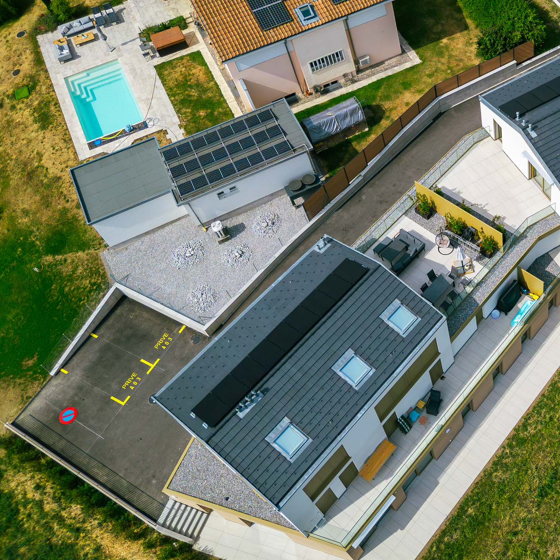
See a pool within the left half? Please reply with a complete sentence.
Yes, a pool shows up within the left half.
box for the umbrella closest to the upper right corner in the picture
[452,245,477,278]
